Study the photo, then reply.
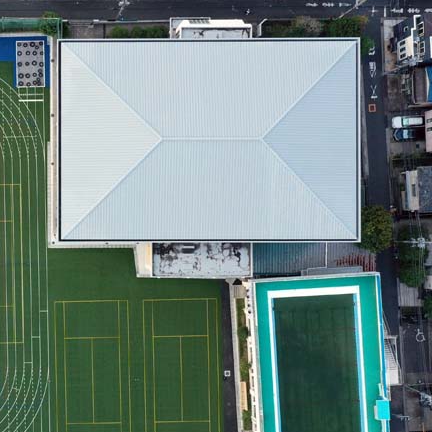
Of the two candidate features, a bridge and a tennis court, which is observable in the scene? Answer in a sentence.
The one in the frame is a tennis court.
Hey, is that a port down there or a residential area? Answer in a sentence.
The area seen from above is a residential area.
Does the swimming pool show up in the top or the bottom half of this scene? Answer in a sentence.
The swimming pool sits in the bottom half of the picture.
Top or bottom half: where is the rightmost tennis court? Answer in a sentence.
Seen from above, the rightmost tennis court lies in the bottom half of the view.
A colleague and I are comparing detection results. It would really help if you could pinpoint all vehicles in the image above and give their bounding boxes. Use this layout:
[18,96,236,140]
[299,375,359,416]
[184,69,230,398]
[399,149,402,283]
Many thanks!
[388,116,424,130]
[389,128,419,142]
